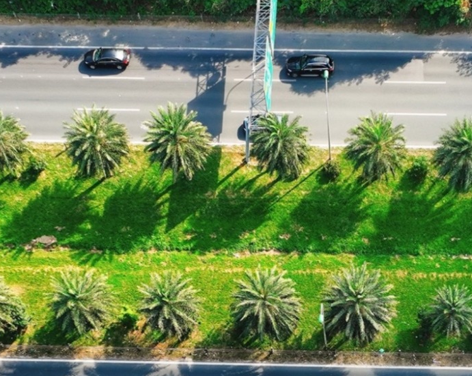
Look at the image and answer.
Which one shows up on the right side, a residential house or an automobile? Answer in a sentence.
It is an automobile that can be seen on the right side.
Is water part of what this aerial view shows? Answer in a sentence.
No, no water is visible.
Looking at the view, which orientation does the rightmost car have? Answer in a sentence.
What the image shows is the rightmost car lying horizontally.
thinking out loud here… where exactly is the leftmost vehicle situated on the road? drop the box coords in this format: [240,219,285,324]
[83,48,133,71]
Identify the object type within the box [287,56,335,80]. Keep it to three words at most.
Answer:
car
